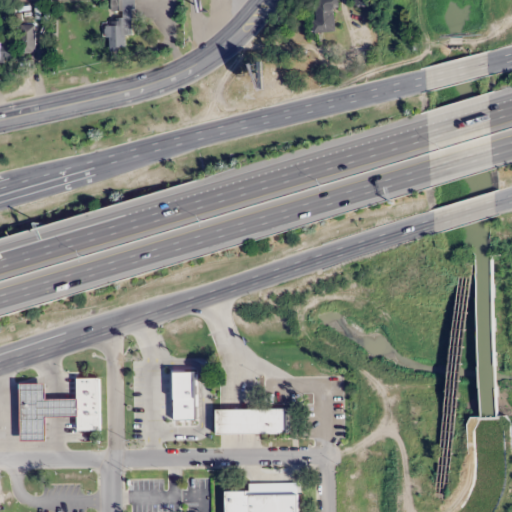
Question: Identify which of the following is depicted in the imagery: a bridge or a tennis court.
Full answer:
This aerial view contains a bridge.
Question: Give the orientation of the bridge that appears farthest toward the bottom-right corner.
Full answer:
The bridge that appears farthest toward the bottom-right corner runs from top to bottom in the image.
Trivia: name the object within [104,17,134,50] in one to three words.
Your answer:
house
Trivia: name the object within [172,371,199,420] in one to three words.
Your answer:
building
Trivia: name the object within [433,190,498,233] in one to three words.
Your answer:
bridge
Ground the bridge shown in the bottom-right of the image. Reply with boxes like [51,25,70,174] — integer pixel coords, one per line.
[434,264,474,499]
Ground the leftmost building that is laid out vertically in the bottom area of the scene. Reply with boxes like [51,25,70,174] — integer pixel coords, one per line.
[76,377,102,431]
